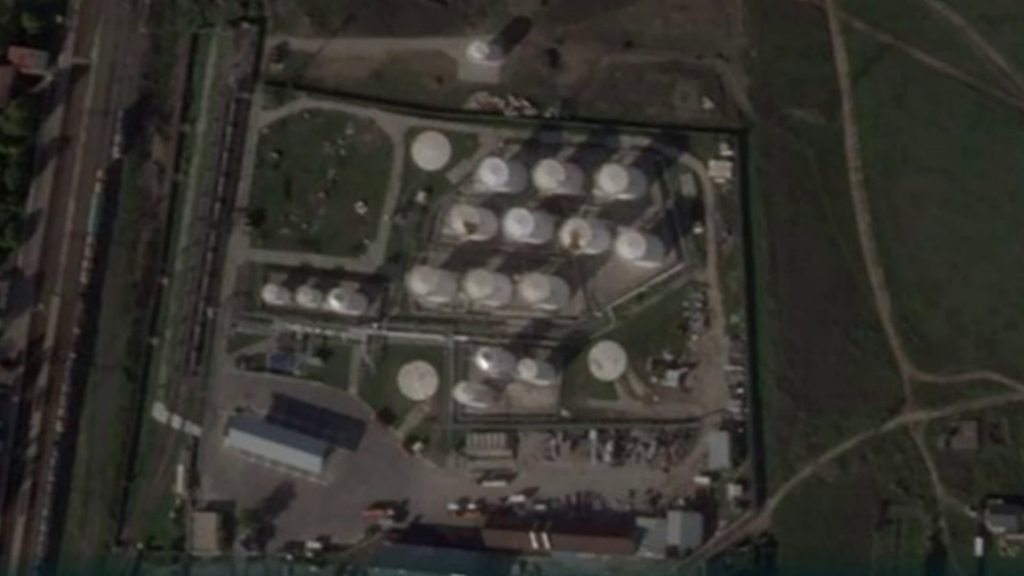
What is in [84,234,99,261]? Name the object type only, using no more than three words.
rail car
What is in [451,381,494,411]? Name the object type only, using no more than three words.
storage tank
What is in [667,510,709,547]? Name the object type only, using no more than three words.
building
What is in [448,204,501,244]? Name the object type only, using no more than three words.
storage tank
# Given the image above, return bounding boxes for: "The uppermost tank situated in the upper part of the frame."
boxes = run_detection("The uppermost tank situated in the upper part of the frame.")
[466,40,505,69]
